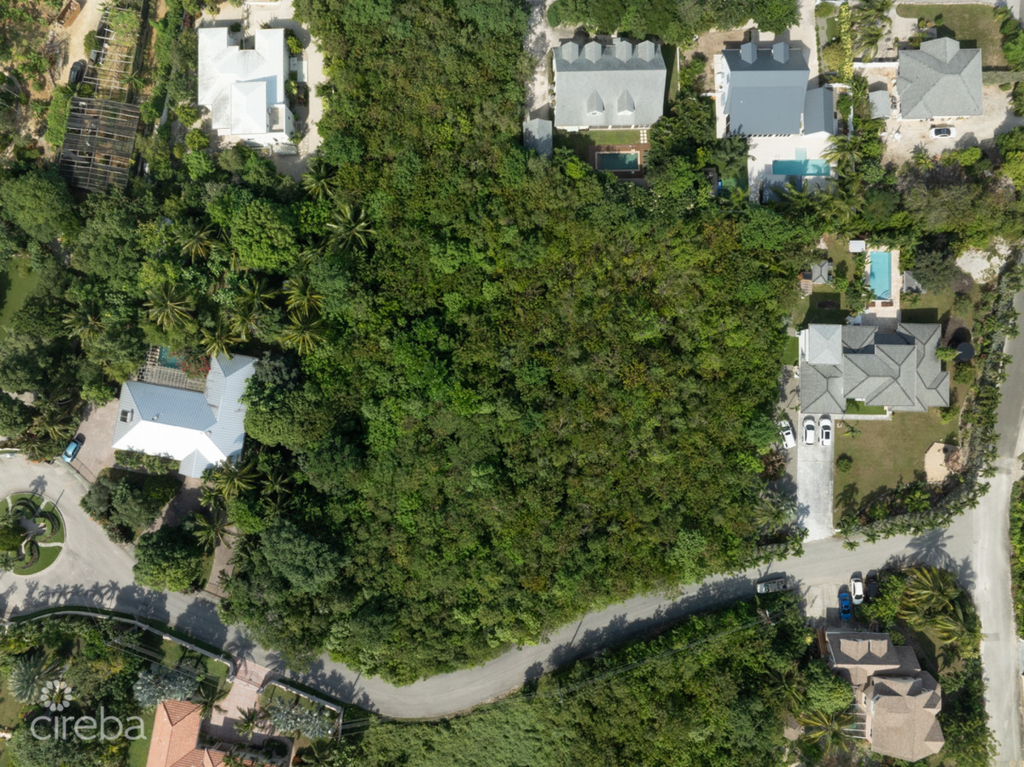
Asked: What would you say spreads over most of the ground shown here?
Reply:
trees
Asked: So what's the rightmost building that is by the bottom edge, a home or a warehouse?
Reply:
home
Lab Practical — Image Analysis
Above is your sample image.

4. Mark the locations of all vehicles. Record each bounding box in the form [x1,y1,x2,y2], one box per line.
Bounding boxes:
[62,436,83,463]
[801,418,816,444]
[69,59,88,89]
[863,575,878,604]
[837,592,852,619]
[849,577,864,605]
[817,418,833,445]
[778,420,797,448]
[755,577,788,595]
[928,126,957,140]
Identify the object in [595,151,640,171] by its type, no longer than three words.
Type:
swimming pool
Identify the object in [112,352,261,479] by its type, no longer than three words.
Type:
house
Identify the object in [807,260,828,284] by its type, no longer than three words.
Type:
gazebo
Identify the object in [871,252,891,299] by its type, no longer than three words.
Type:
swimming pool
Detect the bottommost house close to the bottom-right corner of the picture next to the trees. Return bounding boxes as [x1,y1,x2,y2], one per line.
[816,626,944,762]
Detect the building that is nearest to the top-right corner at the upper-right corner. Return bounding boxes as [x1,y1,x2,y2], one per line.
[889,36,982,123]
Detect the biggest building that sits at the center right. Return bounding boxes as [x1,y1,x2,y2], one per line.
[793,324,950,413]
